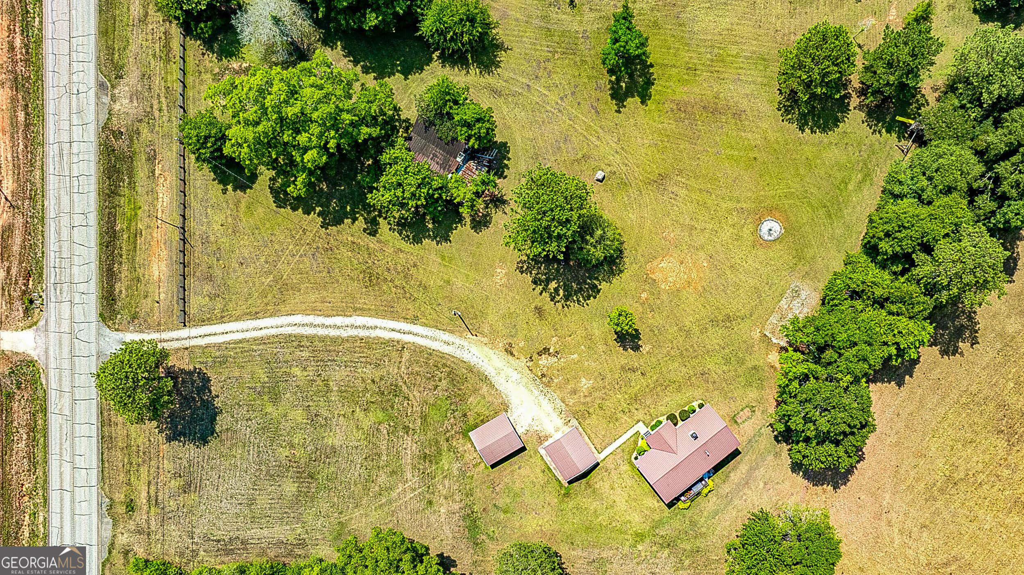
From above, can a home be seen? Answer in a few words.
Yes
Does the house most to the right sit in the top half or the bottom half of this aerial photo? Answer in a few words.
bottom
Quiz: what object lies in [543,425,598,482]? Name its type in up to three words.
building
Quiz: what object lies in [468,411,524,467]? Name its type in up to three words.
building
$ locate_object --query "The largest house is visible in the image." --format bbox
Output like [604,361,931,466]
[634,403,740,505]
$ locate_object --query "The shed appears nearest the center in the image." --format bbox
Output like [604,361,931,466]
[457,146,501,179]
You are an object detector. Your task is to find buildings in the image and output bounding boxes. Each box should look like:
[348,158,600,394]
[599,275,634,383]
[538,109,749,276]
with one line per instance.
[468,411,524,467]
[400,116,466,178]
[634,403,740,505]
[543,425,598,482]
